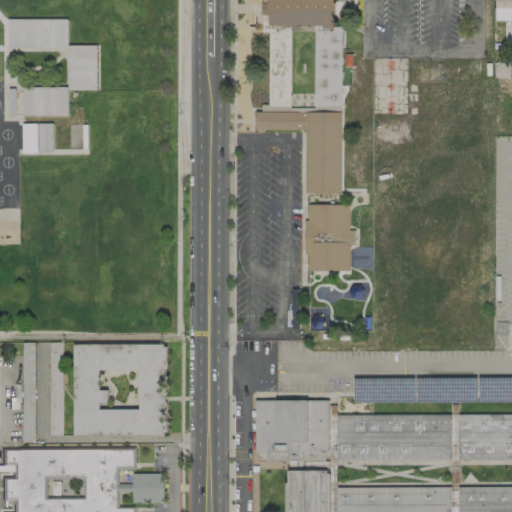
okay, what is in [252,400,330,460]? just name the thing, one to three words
building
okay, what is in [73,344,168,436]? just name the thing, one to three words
building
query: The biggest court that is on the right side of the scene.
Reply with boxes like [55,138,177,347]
[374,58,408,114]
